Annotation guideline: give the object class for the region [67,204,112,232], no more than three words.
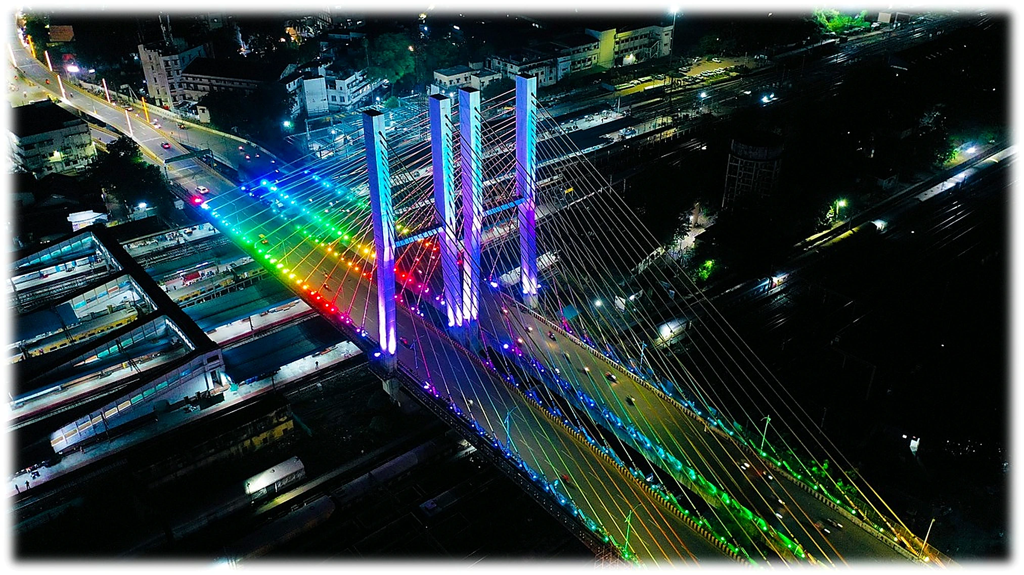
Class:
building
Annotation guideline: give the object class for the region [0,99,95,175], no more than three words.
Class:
building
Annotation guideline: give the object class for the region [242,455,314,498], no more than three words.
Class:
rail car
